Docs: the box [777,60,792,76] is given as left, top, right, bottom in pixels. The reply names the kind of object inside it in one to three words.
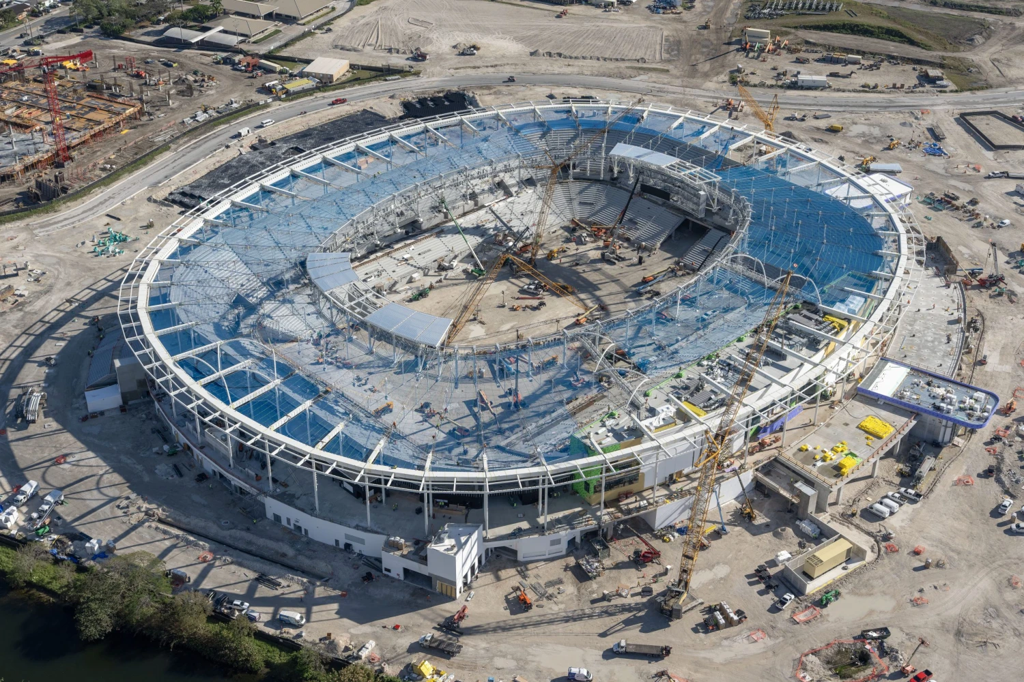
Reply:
work vehicle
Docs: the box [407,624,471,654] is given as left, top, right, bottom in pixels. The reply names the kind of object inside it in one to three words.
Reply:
truck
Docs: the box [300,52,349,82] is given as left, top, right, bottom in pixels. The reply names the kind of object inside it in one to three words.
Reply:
building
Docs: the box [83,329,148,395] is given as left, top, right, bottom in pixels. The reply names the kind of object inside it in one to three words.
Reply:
shed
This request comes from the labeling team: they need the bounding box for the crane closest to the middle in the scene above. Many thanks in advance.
[418,226,590,367]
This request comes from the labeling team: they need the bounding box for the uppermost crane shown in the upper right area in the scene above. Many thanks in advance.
[737,86,789,164]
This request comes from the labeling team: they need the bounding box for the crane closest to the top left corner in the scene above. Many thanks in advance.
[0,50,94,166]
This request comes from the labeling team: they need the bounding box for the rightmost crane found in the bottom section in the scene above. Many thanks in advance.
[648,272,793,623]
